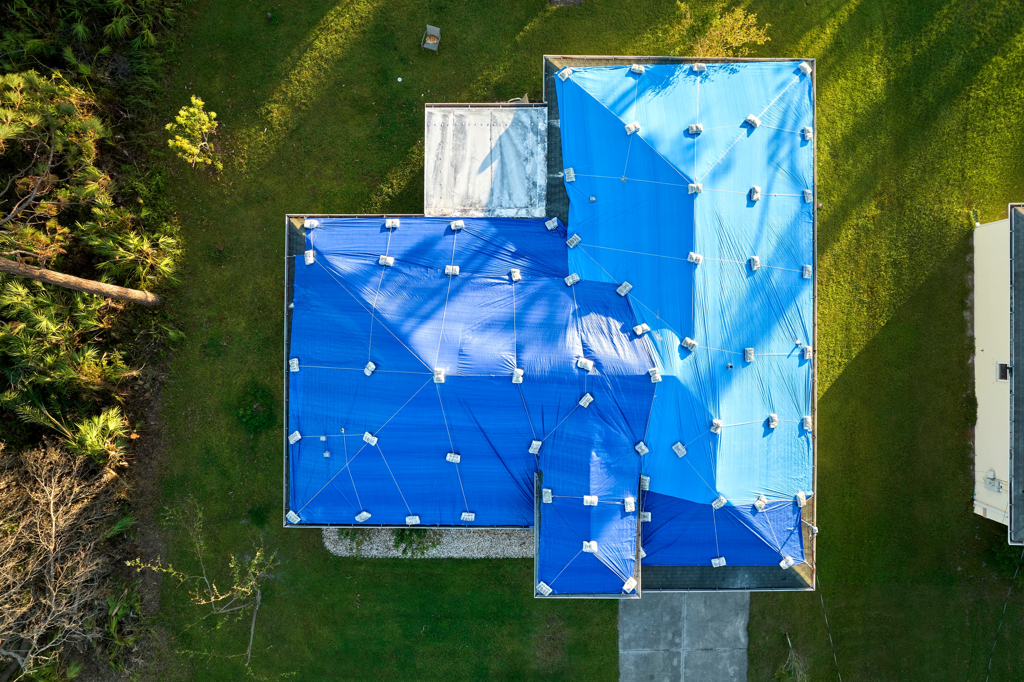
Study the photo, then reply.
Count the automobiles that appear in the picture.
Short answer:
0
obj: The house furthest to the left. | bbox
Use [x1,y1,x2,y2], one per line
[287,56,822,599]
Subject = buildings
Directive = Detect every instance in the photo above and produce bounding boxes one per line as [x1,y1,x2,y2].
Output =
[968,202,1024,546]
[287,56,822,599]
